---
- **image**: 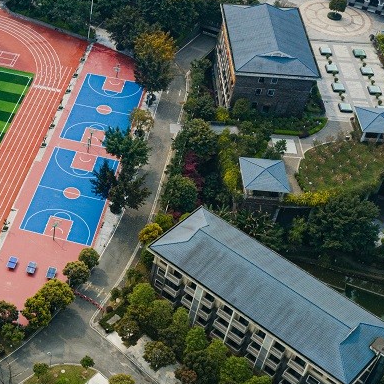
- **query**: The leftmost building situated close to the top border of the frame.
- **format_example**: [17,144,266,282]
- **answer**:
[214,0,322,116]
